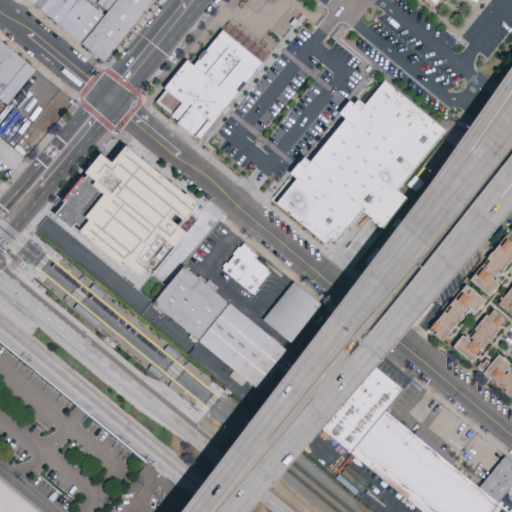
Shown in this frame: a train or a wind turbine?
train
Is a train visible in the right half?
No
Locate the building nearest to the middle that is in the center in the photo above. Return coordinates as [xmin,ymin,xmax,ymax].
[224,244,271,295]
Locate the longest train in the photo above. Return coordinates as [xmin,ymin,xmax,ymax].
[52,263,167,358]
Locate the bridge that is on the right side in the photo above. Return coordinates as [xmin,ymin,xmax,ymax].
[182,68,512,512]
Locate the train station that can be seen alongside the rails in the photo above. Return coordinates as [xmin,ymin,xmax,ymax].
[20,249,226,421]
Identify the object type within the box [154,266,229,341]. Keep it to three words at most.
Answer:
building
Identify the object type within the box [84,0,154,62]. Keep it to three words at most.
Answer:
building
